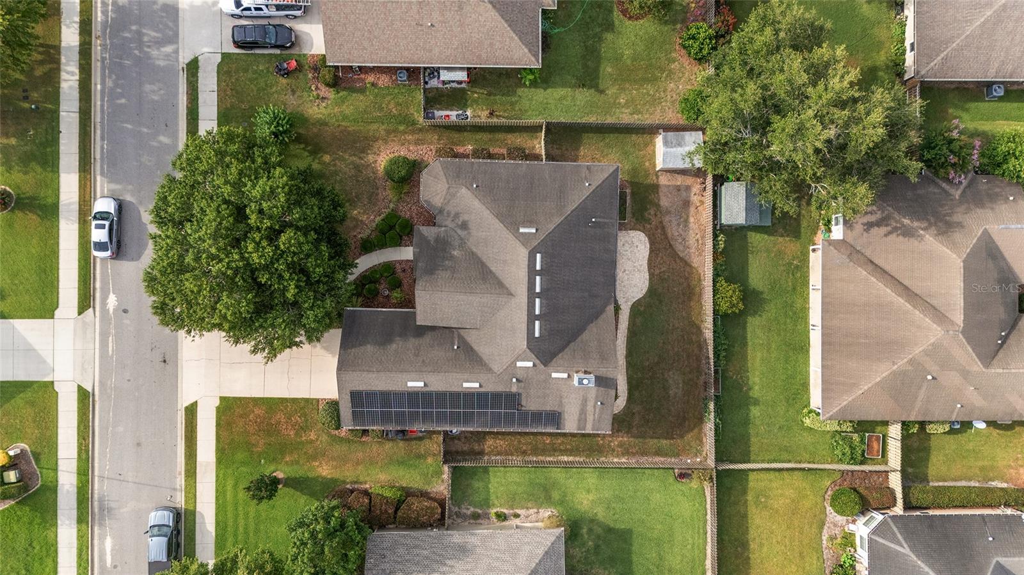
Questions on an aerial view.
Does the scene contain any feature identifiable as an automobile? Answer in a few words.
Yes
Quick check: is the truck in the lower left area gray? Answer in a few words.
Yes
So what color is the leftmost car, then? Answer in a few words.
white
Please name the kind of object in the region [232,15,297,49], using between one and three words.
car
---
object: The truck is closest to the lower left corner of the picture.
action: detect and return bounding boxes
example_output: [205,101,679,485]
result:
[145,504,181,575]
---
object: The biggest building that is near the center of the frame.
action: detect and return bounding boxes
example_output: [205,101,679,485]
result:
[337,157,621,436]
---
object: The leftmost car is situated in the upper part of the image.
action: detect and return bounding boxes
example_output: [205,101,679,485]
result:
[86,196,122,258]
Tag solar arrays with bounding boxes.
[351,391,559,429]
